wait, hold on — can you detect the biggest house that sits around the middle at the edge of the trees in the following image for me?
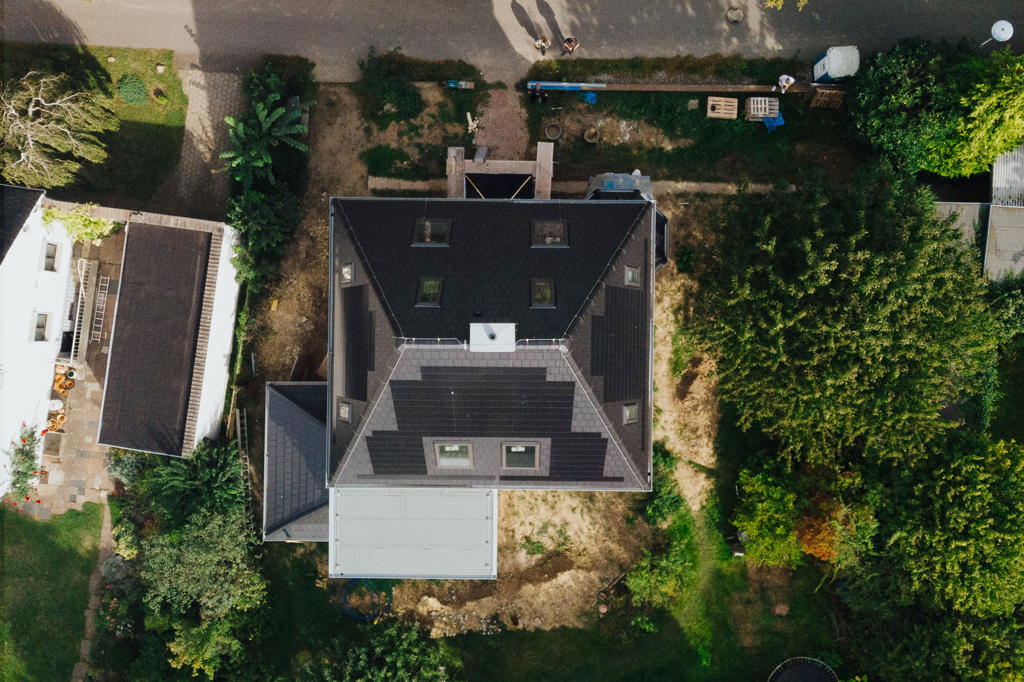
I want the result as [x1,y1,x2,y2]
[322,173,668,495]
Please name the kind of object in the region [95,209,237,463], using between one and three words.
building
